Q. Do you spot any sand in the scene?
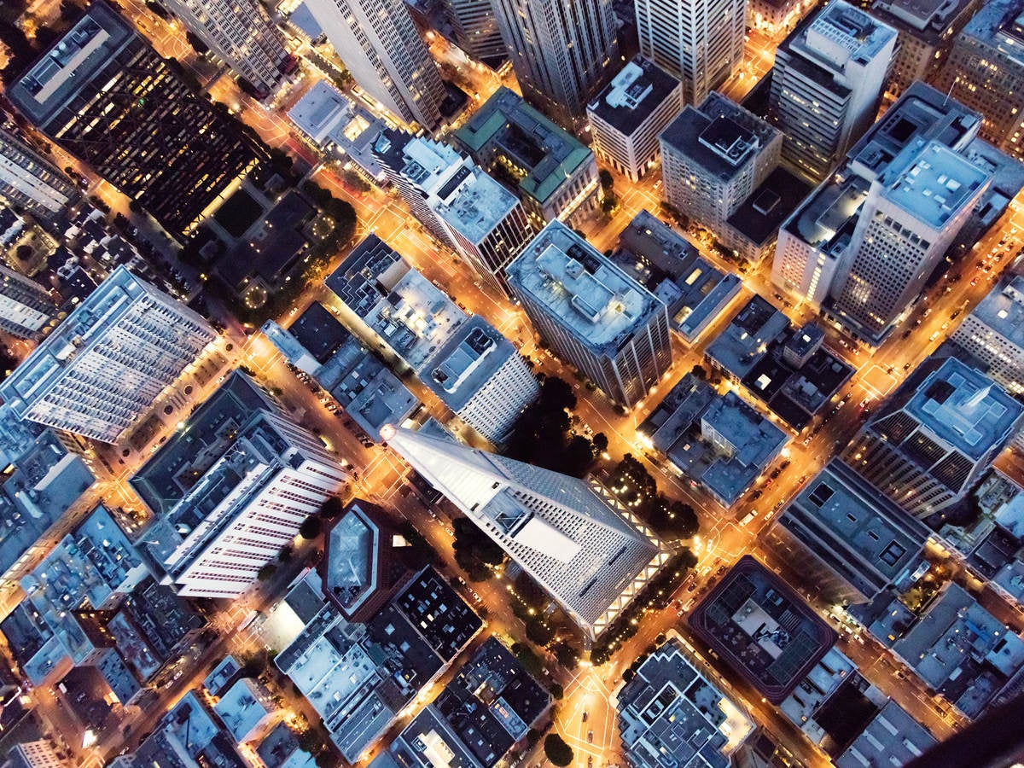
No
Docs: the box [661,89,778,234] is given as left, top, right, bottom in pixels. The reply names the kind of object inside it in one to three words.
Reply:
building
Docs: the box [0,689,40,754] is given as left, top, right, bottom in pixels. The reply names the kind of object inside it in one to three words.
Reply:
building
